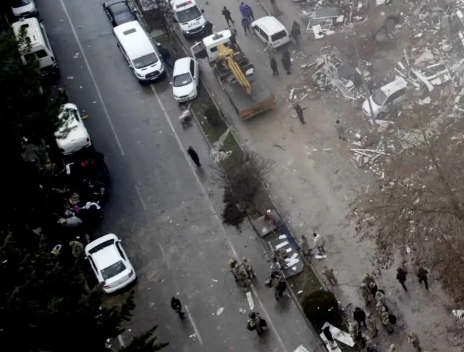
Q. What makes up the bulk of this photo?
paved ground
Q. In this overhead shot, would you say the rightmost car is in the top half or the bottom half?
top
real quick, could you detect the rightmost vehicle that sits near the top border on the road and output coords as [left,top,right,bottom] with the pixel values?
[252,15,293,52]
